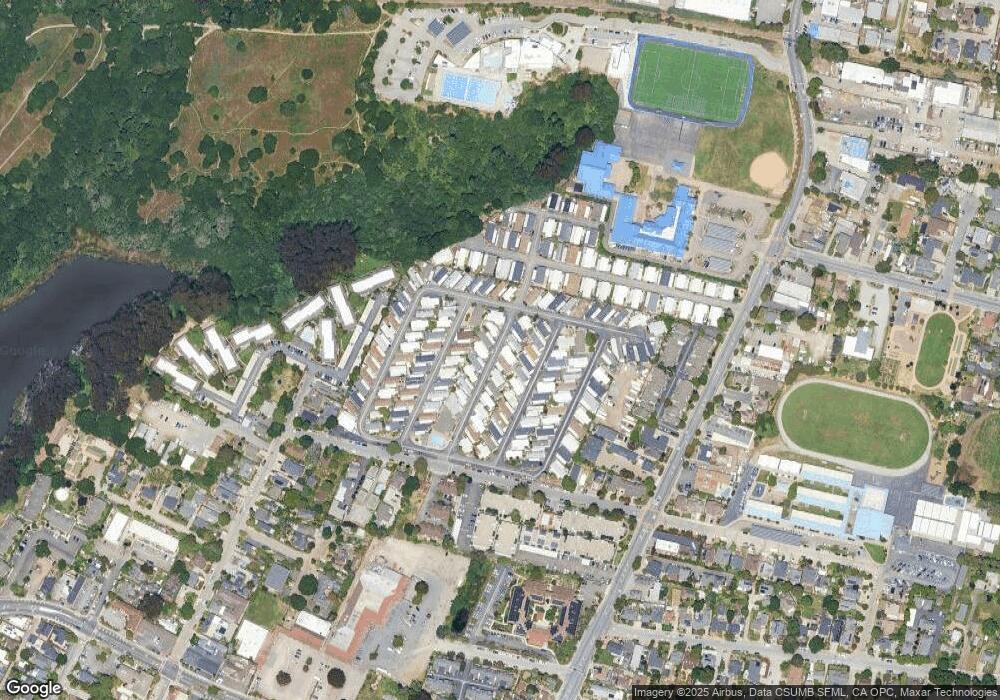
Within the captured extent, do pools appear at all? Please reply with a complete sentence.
Yes, the frame does contain a pool.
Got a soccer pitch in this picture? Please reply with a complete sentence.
Yes, the image includes a soccer pitch.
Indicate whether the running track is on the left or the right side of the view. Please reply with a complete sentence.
The running track is on the right side of the image.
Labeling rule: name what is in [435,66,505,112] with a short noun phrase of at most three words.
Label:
swimming pool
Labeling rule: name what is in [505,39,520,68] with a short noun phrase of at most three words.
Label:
building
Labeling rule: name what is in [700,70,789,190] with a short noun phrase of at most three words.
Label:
baseball field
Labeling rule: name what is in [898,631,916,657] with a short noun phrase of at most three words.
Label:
house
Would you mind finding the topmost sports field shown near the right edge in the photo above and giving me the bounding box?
[913,310,958,390]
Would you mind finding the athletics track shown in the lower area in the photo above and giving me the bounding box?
[776,377,934,474]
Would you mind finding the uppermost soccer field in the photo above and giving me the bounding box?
[630,35,754,127]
